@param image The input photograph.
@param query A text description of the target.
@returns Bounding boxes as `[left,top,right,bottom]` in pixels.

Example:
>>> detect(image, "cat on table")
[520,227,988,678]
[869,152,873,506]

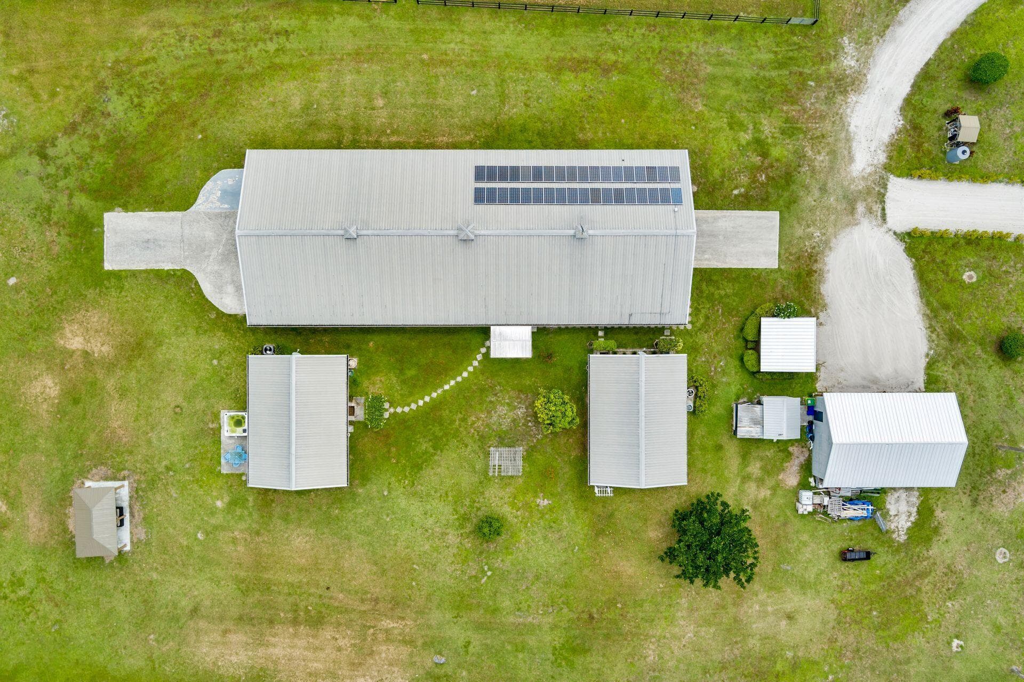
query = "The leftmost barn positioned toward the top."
[235,149,696,358]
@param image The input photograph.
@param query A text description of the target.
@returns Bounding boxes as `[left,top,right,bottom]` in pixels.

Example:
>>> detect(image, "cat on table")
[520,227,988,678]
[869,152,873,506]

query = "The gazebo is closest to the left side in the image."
[74,484,128,559]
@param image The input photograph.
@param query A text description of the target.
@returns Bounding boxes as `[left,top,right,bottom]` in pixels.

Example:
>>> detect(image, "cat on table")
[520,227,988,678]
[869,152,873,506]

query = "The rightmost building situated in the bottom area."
[813,392,969,488]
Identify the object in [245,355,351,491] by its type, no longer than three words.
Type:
building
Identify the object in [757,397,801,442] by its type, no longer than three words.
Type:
shed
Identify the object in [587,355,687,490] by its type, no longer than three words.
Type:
building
